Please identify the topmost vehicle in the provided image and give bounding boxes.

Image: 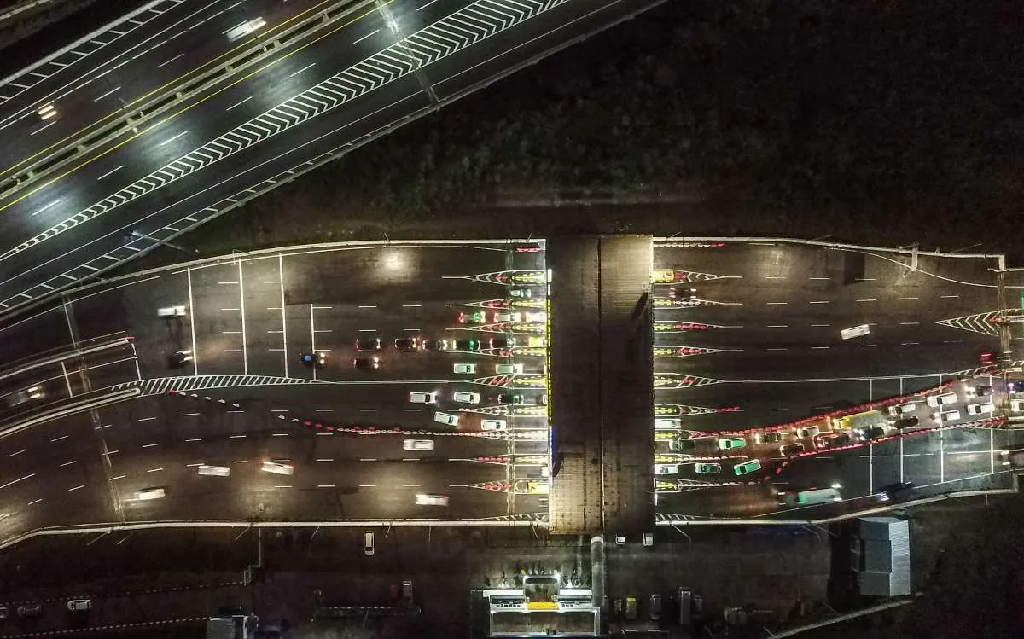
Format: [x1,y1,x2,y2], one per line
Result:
[227,18,266,44]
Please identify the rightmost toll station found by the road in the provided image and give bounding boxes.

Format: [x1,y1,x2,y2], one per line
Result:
[551,235,653,534]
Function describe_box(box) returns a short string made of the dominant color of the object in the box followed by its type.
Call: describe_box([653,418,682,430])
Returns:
white vehicle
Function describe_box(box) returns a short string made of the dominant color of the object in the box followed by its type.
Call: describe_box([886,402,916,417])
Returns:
white car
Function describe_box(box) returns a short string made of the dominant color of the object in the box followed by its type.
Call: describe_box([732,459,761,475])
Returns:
green car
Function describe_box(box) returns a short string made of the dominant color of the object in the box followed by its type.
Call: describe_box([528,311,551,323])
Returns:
white vehicle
